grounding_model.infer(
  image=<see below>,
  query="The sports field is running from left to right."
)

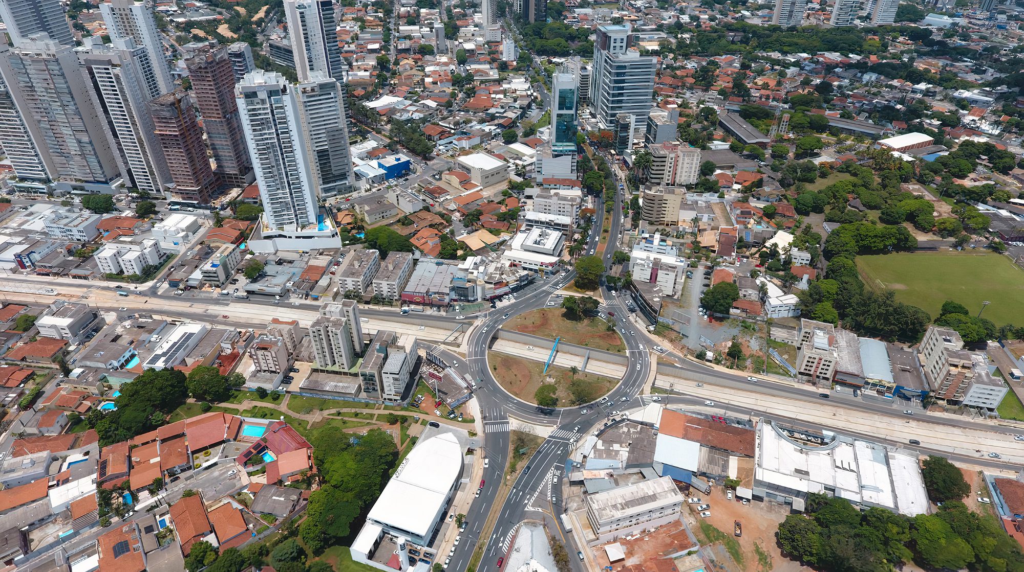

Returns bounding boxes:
[857,252,1024,328]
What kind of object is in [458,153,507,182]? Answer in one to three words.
building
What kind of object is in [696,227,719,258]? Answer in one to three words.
house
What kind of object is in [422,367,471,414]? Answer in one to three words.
building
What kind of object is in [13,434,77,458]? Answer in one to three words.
house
